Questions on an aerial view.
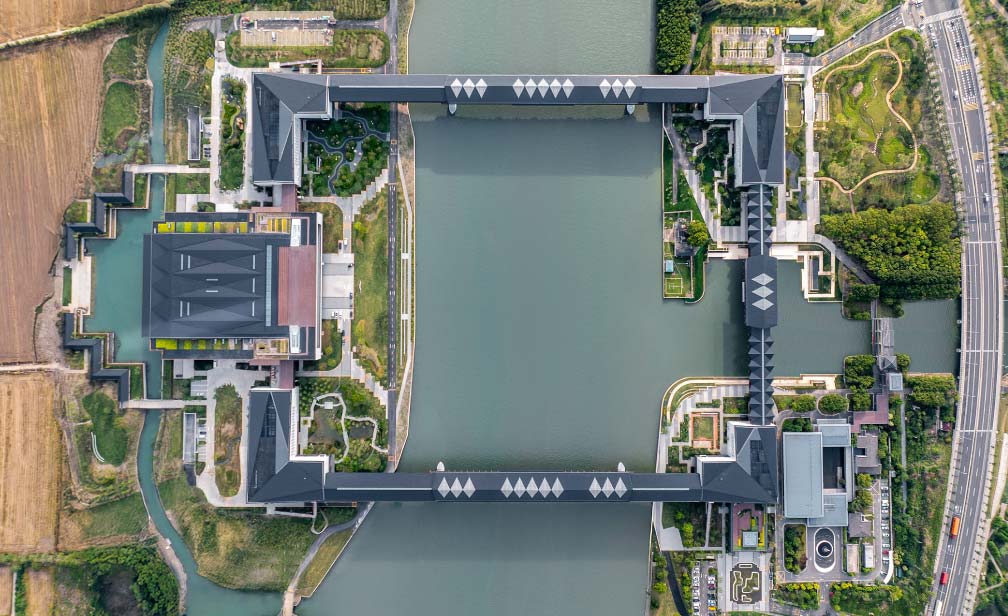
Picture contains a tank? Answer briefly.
No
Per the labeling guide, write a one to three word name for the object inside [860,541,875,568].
shed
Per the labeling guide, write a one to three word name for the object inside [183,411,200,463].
shed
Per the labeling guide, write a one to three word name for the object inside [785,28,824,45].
building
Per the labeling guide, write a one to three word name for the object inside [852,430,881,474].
house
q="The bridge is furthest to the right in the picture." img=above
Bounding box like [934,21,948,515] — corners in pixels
[953,300,1005,377]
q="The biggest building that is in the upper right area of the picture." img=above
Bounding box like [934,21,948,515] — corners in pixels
[699,75,785,189]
